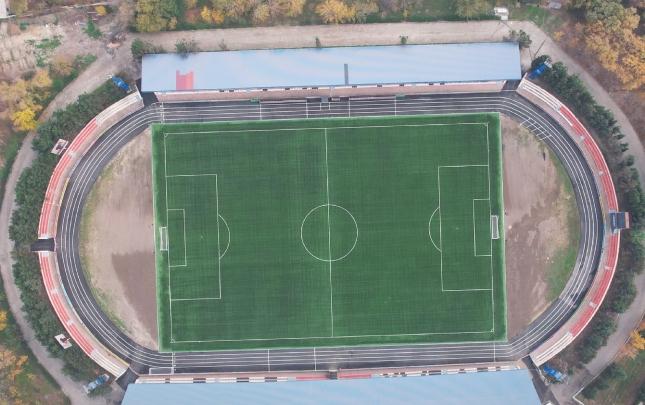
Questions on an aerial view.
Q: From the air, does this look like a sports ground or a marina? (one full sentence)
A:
This image shows a sports ground.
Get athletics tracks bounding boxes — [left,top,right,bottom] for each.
[62,90,597,375]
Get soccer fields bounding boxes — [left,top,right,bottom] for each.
[152,112,508,353]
